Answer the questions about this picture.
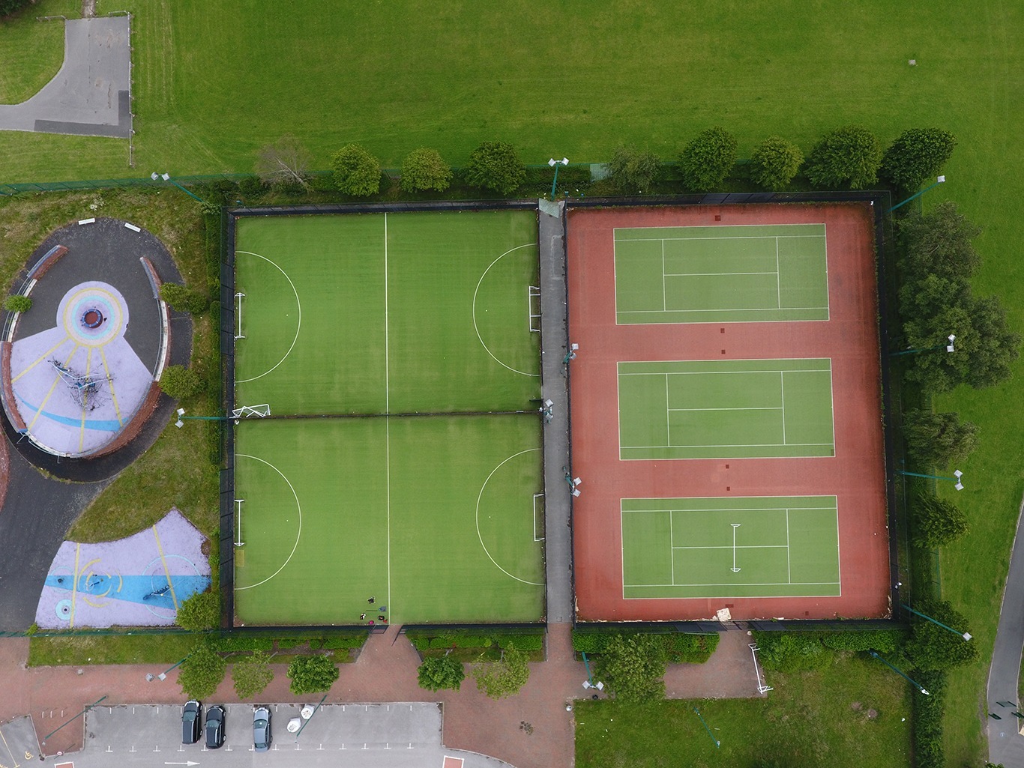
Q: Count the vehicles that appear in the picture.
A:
3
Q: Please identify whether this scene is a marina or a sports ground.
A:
sports ground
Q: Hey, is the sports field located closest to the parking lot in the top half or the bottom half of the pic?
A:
bottom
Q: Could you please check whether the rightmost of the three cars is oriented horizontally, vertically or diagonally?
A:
vertically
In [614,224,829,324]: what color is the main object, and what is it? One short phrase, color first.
green tennis court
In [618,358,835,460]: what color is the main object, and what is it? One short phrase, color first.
green tennis court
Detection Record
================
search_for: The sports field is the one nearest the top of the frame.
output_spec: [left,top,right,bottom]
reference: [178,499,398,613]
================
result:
[235,209,541,416]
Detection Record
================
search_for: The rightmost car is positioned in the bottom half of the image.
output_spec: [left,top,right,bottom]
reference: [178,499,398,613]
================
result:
[250,707,272,752]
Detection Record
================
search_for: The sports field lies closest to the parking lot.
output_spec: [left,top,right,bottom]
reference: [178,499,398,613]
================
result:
[234,413,545,627]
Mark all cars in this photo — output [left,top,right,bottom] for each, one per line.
[250,707,272,752]
[202,705,225,749]
[179,701,202,743]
